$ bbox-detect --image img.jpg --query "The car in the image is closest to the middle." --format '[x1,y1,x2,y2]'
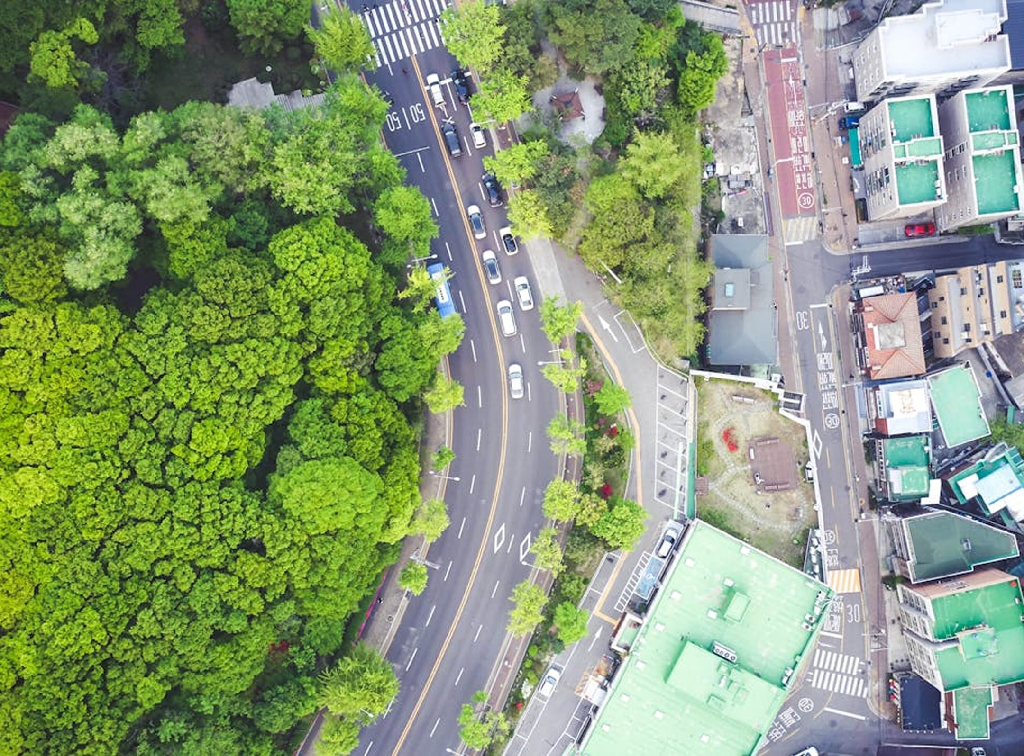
[507,362,525,399]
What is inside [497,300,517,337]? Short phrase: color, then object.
white car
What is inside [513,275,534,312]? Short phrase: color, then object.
white car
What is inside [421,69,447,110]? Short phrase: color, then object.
white truck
